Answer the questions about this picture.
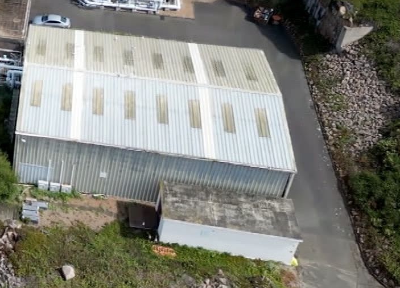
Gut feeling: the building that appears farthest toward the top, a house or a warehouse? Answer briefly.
warehouse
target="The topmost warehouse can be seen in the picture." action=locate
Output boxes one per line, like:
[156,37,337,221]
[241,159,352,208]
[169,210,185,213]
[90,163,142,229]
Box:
[6,25,299,206]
